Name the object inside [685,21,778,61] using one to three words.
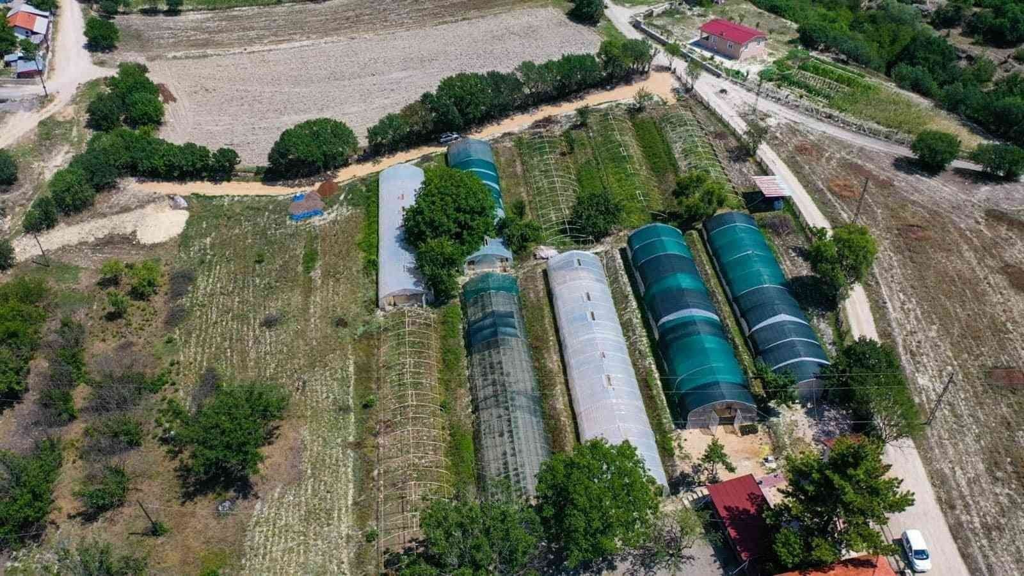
house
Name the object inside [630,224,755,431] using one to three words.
greenhouse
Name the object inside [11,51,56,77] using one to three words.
shed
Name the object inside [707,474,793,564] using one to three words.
shed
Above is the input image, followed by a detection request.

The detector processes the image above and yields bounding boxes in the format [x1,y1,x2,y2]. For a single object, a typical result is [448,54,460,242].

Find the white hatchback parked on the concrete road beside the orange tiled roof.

[899,529,937,575]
